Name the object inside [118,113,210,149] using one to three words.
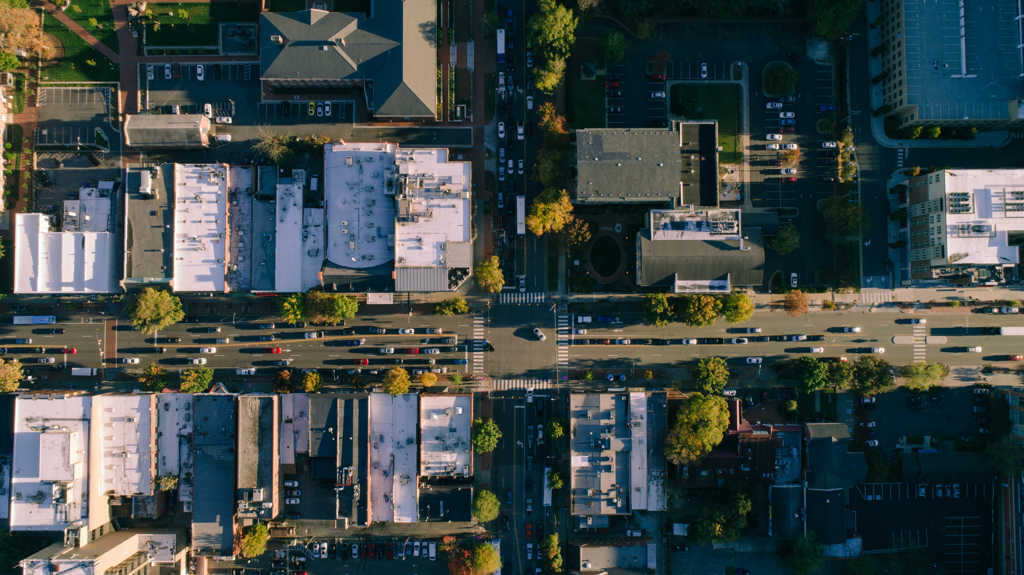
house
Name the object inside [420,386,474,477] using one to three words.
building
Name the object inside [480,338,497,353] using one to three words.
vehicle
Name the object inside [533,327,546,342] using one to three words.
vehicle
